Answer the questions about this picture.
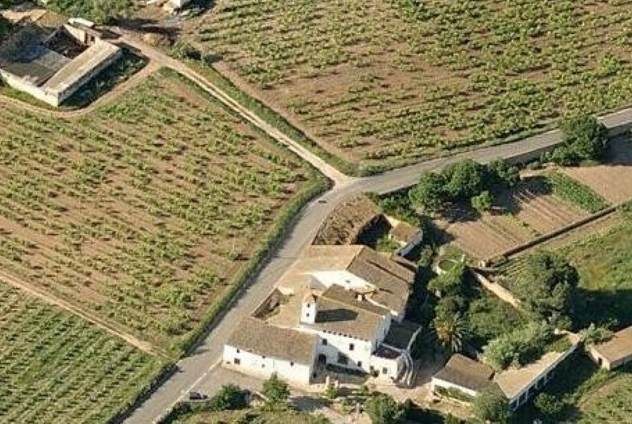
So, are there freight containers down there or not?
No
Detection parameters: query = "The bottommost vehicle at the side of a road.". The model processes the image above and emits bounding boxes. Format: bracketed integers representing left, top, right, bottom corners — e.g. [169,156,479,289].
[187,389,210,401]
